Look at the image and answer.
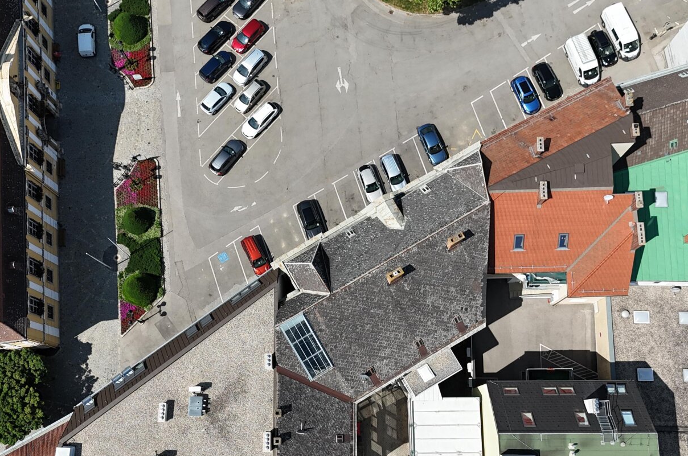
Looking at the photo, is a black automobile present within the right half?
Yes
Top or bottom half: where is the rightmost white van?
top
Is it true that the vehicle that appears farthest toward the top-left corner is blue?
Yes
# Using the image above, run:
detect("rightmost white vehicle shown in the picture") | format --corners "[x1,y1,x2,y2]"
[599,0,641,62]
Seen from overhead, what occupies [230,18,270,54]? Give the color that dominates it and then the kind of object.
red car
